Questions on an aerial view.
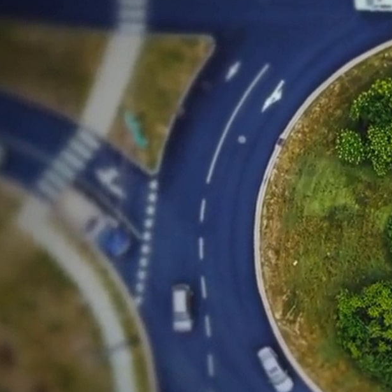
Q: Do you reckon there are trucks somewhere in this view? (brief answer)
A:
Yes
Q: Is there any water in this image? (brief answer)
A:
No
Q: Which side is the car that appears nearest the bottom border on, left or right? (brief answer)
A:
right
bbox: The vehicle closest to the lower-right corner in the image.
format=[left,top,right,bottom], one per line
[256,344,295,392]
